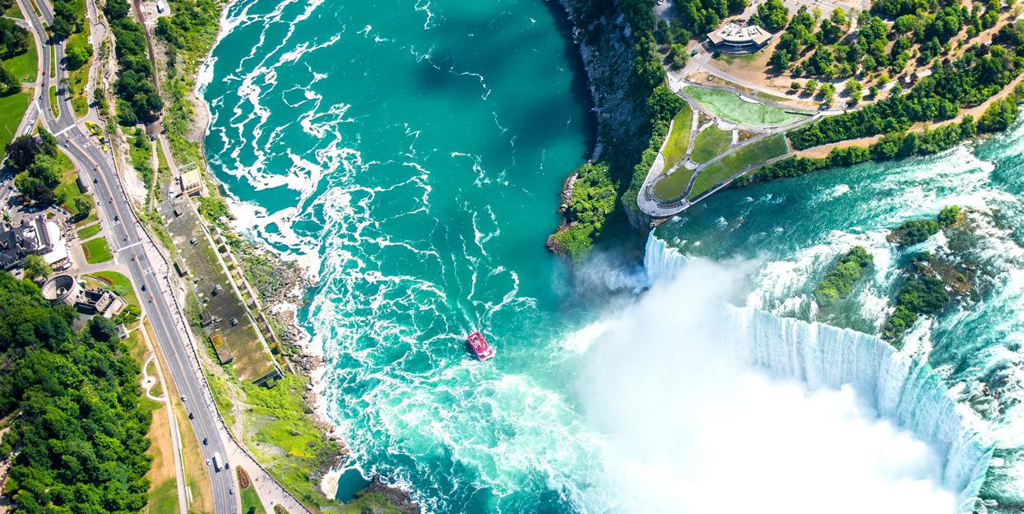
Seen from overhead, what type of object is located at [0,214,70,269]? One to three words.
building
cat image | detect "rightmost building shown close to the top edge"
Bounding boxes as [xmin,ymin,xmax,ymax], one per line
[702,19,772,55]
